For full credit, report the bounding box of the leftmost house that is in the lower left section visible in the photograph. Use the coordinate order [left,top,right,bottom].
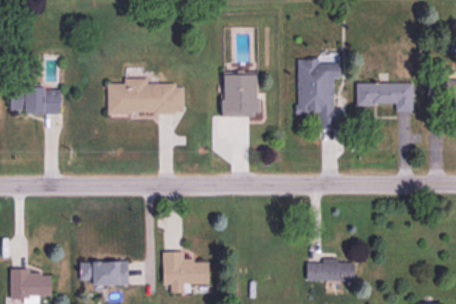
[10,268,52,300]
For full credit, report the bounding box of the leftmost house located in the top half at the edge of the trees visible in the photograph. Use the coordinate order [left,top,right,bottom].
[10,88,62,116]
